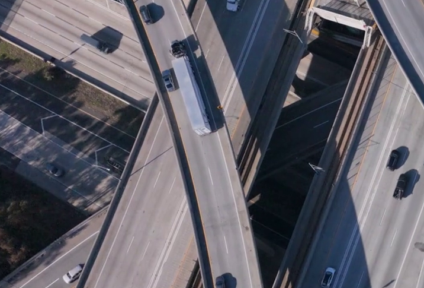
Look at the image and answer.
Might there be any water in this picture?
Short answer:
No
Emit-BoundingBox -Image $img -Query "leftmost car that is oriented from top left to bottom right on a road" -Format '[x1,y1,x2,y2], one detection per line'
[44,161,65,177]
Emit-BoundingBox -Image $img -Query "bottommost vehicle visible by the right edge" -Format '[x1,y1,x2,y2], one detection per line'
[392,172,408,199]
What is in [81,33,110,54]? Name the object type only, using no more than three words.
truck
